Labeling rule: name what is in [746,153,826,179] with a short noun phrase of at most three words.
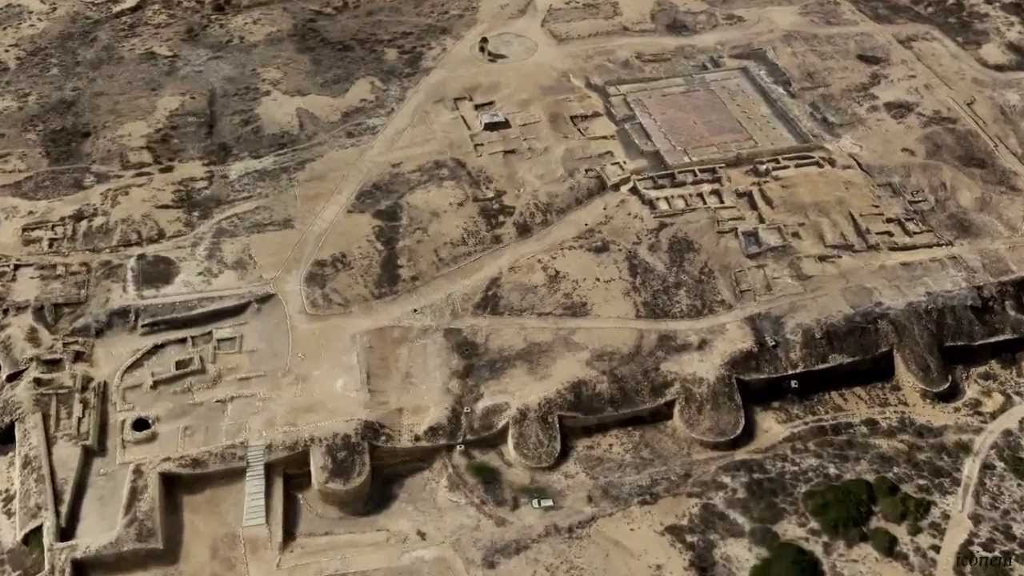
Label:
building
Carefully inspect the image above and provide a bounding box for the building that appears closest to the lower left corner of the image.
[40,334,97,372]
